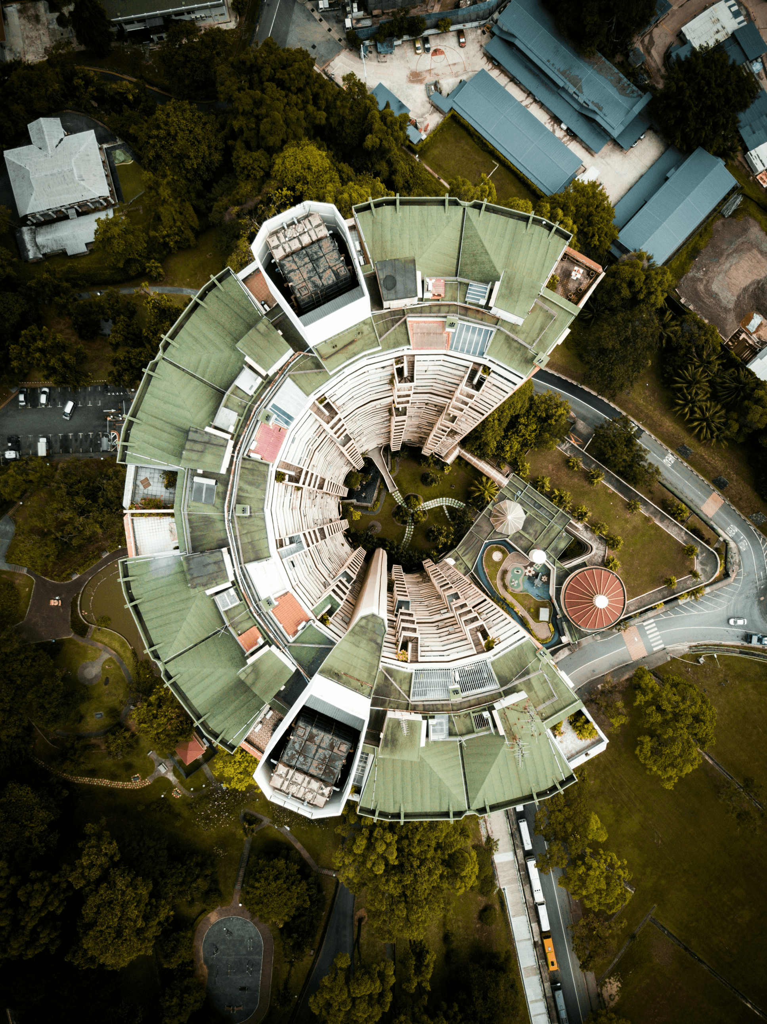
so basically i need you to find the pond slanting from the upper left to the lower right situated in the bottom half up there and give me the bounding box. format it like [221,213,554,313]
[80,562,160,672]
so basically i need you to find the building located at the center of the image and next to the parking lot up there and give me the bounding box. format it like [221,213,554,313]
[115,193,609,825]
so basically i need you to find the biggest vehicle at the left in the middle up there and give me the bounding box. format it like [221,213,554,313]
[37,438,50,457]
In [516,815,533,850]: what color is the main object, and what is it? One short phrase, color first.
white vehicle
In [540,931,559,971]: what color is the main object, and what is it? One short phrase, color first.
orange vehicle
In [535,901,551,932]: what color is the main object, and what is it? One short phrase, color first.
white vehicle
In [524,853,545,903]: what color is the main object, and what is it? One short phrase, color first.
white bus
